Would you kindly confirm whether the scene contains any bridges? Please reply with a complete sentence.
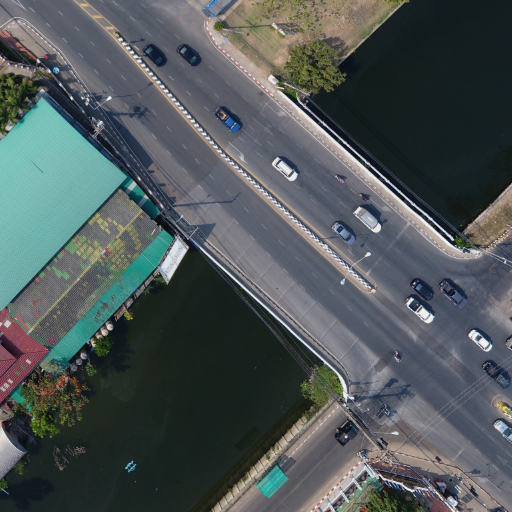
Yes, there's a bridge here.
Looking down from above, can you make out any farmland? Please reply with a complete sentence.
No, farmland can't be seen anywhere here.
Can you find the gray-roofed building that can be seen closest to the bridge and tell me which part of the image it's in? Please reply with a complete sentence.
You can find the gray-roofed building that can be seen closest to the bridge in the left area of the picture.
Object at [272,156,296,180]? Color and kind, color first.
white car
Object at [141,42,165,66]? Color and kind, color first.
black car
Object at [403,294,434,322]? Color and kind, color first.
white truck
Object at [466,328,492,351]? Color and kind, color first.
white car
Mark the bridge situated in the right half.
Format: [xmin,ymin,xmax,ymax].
[184,90,488,392]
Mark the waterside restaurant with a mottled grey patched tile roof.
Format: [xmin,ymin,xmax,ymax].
[9,186,174,371]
